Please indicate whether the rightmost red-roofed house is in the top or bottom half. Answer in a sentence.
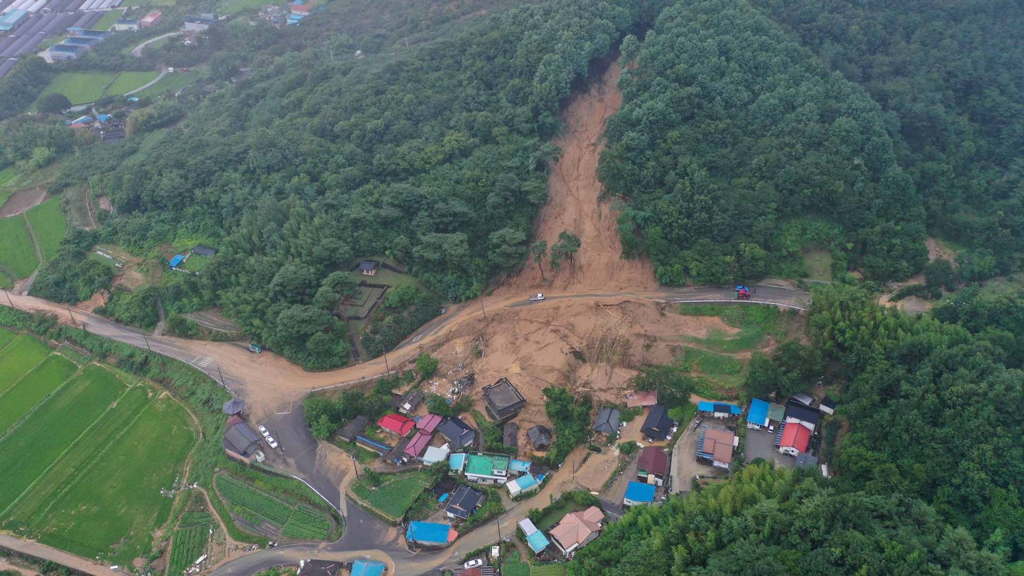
The bottom half of the photo is where the rightmost red-roofed house is.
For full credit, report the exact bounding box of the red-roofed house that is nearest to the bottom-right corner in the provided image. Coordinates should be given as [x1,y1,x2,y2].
[772,422,810,458]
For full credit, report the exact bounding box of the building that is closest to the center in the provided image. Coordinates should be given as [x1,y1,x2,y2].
[482,376,525,419]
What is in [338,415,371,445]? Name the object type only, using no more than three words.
shed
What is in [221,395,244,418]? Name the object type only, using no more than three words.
building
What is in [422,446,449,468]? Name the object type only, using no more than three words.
shed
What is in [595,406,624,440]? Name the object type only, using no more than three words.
house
